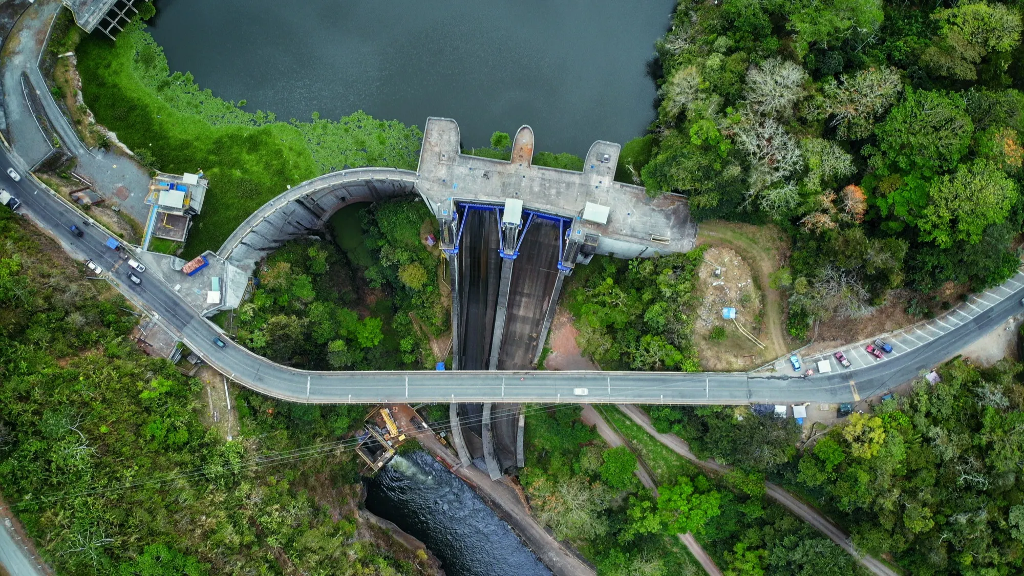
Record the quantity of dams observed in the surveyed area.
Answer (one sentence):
The picture shows 2 dams.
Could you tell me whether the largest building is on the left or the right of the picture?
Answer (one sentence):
You can find the largest building on the left side of the picture.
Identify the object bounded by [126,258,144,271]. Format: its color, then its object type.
white vehicle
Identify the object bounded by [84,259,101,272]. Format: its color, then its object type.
white vehicle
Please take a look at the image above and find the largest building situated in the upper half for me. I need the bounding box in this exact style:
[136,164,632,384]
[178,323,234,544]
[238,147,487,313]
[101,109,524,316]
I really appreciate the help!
[143,169,209,216]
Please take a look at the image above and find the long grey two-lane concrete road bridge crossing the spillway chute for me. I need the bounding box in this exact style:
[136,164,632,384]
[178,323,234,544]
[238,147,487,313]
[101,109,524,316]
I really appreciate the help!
[184,317,751,408]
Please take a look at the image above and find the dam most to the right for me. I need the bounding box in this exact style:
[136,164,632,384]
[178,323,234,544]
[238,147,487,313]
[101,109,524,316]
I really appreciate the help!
[416,116,697,276]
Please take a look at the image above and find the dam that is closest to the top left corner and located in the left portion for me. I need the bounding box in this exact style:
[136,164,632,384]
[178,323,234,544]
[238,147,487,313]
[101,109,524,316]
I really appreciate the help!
[216,166,420,259]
